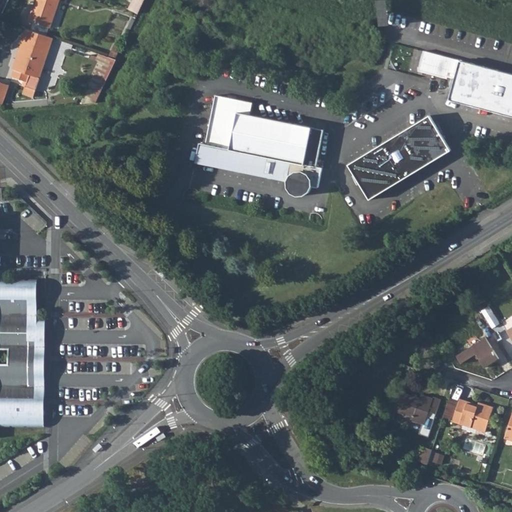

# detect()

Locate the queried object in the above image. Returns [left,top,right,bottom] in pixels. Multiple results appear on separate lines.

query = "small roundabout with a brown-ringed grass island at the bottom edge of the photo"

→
[408,482,480,512]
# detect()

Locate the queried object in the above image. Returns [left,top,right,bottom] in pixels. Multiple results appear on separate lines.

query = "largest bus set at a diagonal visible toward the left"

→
[134,427,161,448]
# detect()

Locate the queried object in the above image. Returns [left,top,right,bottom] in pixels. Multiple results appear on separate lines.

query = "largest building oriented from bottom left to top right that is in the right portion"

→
[347,116,450,200]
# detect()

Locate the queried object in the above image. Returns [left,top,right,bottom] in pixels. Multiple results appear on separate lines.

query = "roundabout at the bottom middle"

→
[177,331,281,435]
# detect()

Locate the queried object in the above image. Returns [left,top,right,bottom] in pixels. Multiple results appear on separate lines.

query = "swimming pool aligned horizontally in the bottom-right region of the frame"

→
[462,440,487,456]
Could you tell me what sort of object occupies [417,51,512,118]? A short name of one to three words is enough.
building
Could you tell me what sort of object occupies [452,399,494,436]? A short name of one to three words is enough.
house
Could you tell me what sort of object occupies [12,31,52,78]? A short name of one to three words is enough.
house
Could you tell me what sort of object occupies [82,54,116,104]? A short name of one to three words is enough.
shed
